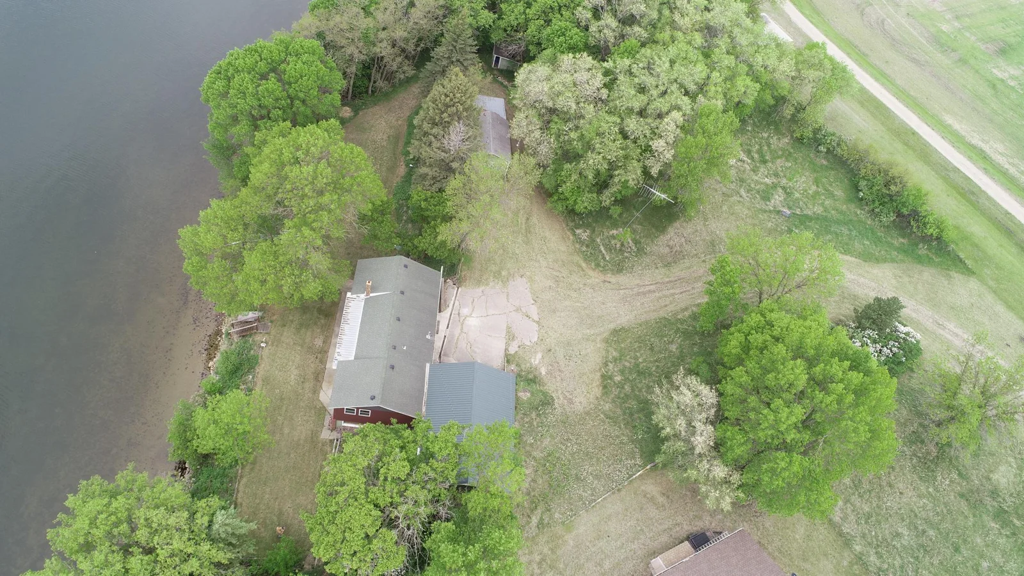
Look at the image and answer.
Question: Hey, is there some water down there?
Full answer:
Yes, water shows up in the scene.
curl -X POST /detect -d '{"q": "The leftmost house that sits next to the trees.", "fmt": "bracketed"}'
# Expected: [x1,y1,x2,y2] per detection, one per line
[328,255,442,428]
